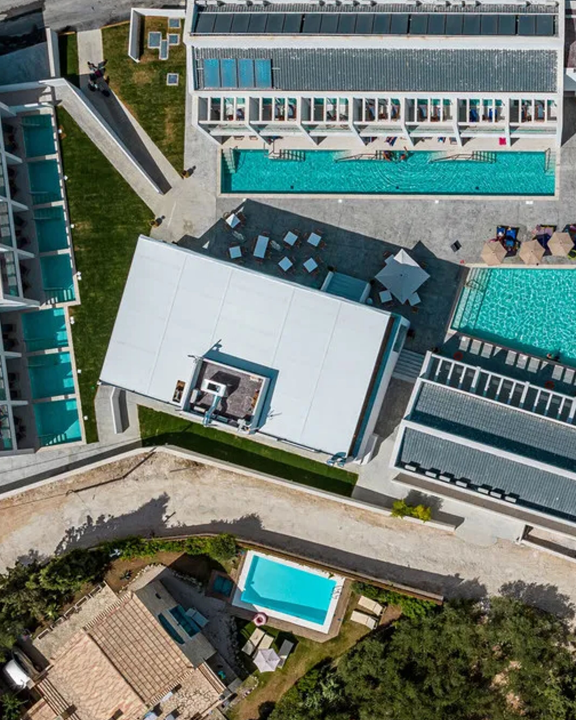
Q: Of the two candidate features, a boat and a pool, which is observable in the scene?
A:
pool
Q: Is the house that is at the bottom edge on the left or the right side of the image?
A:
left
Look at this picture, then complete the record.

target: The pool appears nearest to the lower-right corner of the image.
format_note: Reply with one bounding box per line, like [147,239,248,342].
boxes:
[229,543,350,638]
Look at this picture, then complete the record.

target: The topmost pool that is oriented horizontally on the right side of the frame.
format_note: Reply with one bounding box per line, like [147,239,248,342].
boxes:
[217,144,560,200]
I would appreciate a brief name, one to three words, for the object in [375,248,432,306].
umbrella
